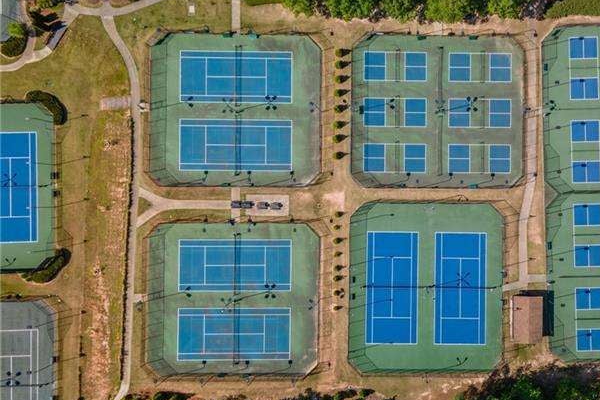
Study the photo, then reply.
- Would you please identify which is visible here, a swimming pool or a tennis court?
tennis court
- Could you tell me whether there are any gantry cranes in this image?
No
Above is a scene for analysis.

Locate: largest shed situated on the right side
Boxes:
[511,295,544,343]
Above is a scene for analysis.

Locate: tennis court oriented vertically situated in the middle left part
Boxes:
[0,130,41,243]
